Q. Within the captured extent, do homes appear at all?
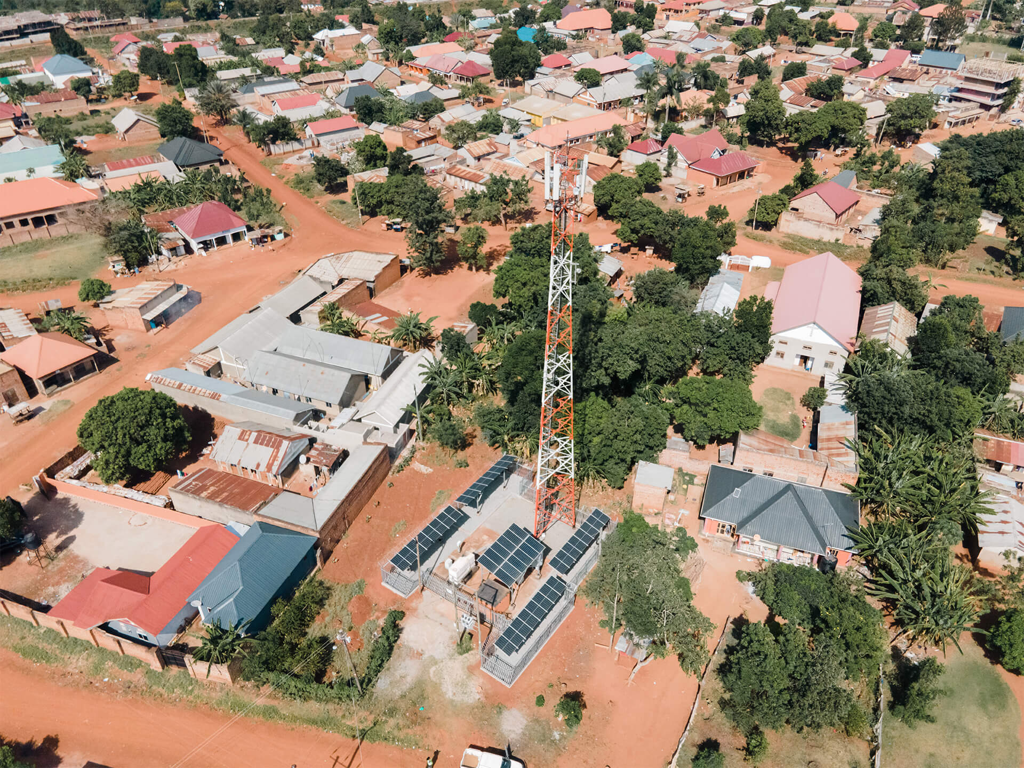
Yes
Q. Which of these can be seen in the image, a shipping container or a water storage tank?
water storage tank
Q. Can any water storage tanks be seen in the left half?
Yes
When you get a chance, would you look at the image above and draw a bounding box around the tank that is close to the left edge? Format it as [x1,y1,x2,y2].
[15,527,54,571]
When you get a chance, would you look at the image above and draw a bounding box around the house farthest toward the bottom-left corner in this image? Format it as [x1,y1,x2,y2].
[49,565,142,646]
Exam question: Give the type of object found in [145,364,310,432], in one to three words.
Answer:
house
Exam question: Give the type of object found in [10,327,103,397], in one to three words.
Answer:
house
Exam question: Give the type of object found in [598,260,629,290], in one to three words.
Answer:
shed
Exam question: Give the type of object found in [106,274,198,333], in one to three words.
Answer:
building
